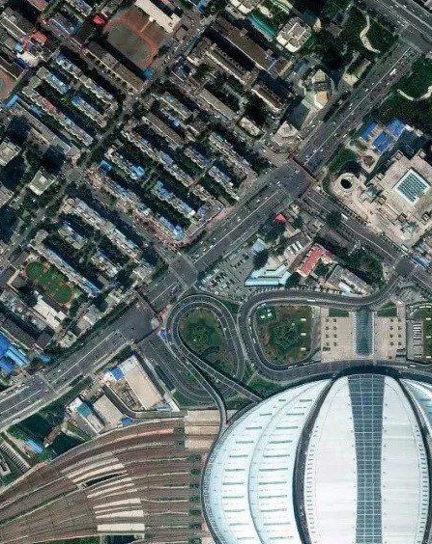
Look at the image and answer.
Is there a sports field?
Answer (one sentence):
Yes, there's a sports field down there.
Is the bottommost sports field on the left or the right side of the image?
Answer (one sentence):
The bottommost sports field is on the left side of the image.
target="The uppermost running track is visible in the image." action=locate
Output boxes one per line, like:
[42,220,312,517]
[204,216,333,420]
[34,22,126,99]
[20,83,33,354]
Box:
[105,18,158,70]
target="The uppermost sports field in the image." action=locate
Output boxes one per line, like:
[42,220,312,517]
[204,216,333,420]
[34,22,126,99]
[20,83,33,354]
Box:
[109,21,155,67]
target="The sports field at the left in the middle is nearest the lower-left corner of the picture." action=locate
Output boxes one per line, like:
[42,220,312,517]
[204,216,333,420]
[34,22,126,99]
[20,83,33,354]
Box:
[21,260,82,313]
